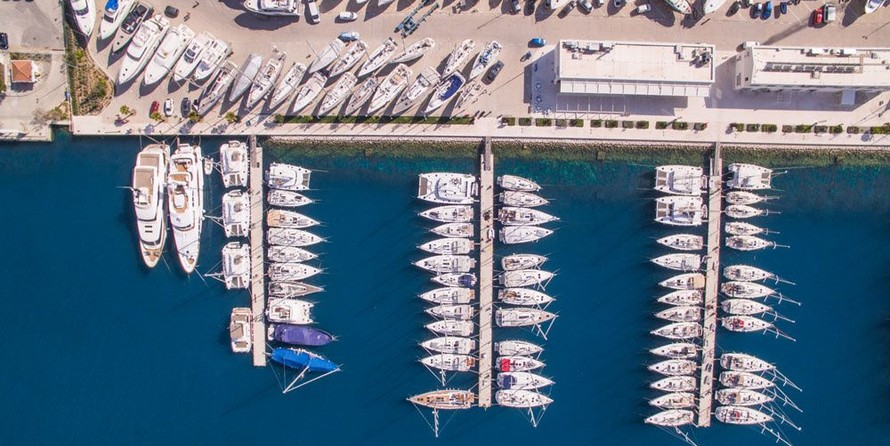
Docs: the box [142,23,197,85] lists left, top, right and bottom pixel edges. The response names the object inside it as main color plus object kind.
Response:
white boat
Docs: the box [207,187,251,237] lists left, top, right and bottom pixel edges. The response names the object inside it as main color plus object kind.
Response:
white boat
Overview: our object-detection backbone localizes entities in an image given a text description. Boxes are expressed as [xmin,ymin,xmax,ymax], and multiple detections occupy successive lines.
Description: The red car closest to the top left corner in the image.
[148,99,161,117]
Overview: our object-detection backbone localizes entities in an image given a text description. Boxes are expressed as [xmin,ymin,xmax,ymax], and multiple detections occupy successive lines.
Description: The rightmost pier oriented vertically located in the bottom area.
[698,158,721,427]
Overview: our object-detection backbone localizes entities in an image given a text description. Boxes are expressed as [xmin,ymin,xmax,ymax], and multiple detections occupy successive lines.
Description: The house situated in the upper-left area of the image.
[11,61,43,83]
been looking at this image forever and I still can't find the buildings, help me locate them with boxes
[554,40,716,117]
[11,61,43,83]
[734,46,890,106]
